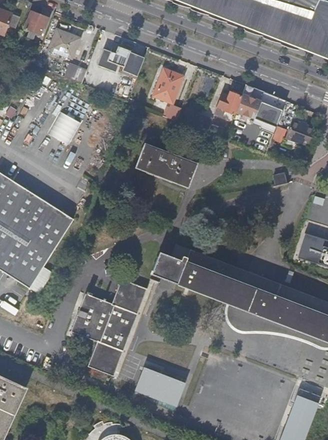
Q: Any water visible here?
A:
No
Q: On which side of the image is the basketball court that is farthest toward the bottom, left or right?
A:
right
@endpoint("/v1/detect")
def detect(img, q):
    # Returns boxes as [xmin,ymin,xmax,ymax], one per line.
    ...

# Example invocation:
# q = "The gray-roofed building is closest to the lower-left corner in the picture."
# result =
[0,374,29,440]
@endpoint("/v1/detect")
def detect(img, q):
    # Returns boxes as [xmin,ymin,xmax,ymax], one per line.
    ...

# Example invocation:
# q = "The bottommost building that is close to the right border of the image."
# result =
[277,379,328,440]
